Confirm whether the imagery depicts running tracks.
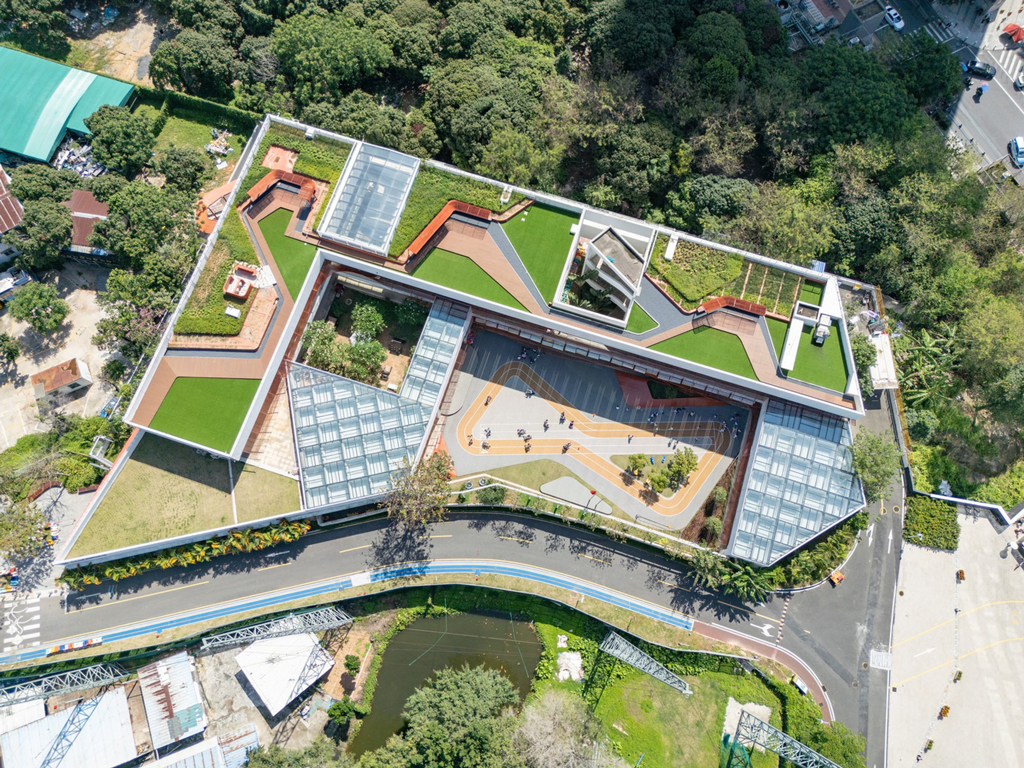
Yes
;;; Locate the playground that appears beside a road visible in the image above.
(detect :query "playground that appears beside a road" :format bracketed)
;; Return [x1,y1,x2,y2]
[430,323,759,546]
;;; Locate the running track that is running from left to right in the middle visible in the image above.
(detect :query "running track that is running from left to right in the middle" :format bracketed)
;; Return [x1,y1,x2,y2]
[454,356,732,513]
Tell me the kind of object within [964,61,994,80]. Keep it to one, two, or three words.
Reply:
car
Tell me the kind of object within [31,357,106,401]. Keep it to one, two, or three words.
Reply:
shed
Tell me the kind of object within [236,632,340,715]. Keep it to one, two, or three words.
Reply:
shed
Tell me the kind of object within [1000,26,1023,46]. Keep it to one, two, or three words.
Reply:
umbrella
